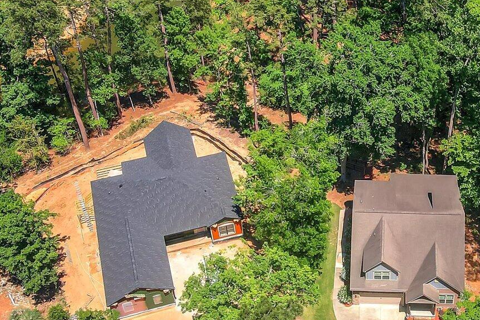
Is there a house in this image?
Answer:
Yes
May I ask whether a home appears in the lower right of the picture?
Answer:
Yes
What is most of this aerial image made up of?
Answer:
trees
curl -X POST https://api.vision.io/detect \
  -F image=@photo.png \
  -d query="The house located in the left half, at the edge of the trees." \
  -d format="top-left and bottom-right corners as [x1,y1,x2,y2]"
[92,123,244,320]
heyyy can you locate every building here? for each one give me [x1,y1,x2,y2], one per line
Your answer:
[92,123,244,320]
[349,159,467,320]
